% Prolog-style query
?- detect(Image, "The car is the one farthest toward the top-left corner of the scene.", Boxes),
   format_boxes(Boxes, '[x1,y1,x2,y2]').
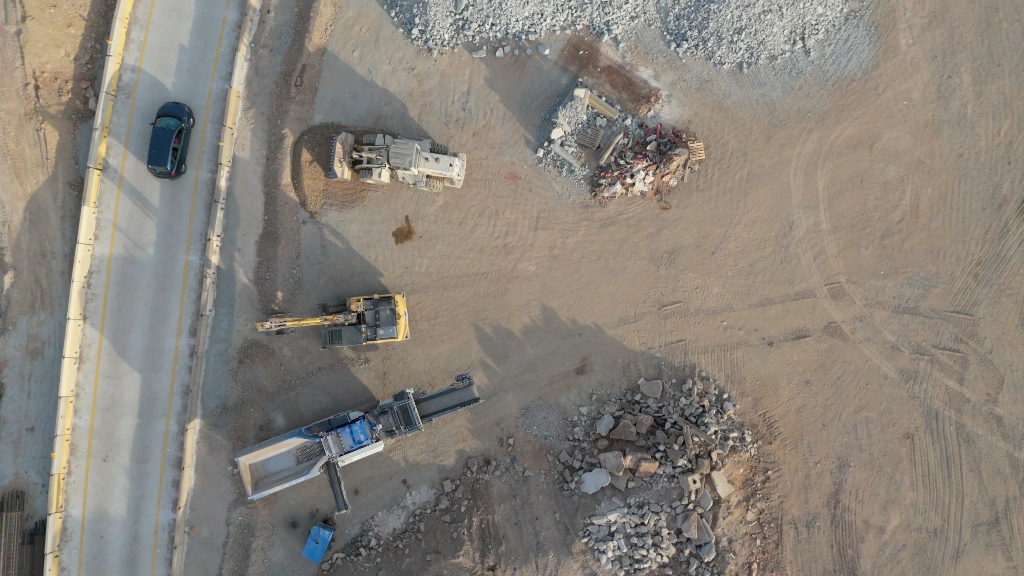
[150,101,198,180]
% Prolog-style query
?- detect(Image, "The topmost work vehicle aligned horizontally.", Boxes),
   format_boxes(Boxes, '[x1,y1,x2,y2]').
[326,130,467,192]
